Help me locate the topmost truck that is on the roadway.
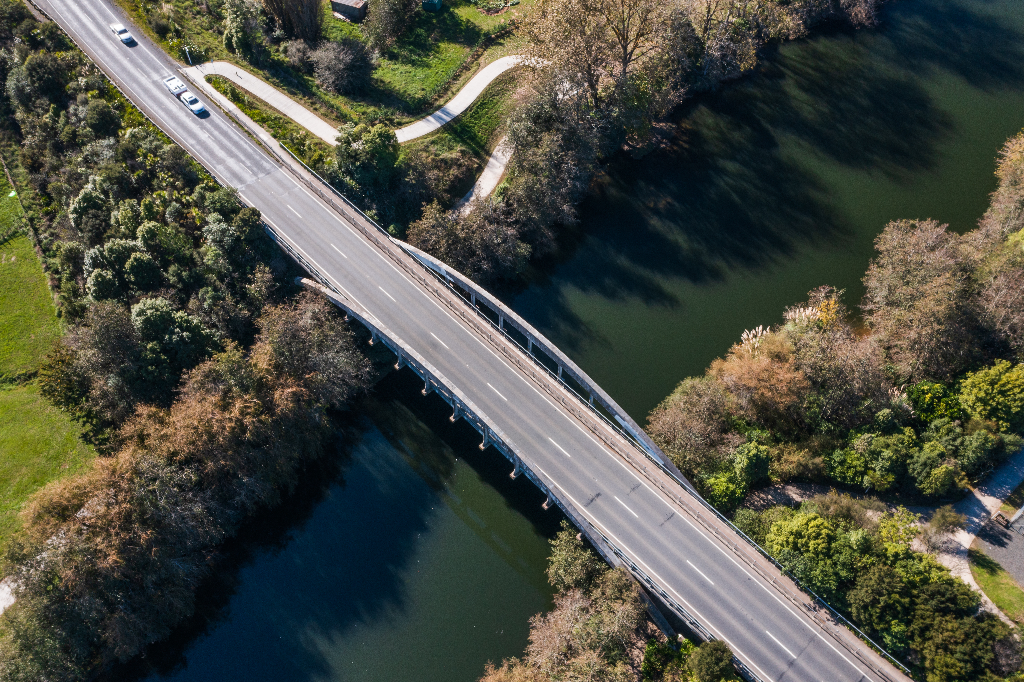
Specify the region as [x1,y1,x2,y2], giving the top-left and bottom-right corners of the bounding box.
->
[107,22,133,45]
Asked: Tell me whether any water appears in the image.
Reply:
Yes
